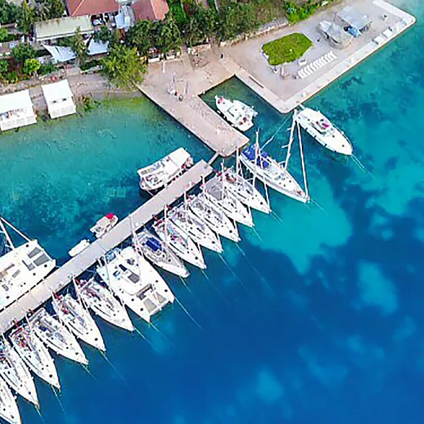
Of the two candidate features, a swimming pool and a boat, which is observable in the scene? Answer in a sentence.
This aerial view contains a boat.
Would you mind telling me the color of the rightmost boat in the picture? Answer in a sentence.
The rightmost boat looks white in the image.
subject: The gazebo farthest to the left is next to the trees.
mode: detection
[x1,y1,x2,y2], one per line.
[0,89,37,135]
